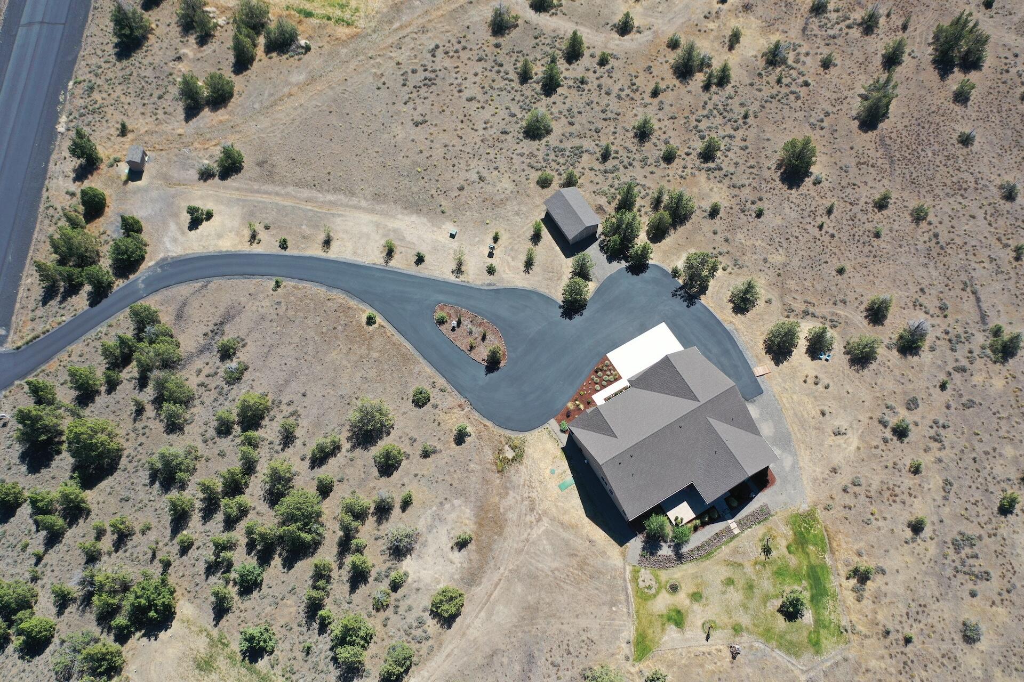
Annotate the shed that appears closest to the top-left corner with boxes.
[124,145,153,171]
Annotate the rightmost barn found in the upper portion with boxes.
[544,187,602,246]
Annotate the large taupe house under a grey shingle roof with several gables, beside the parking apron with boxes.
[566,342,782,524]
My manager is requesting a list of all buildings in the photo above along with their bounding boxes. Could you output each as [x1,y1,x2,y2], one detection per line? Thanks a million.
[544,187,602,246]
[566,342,782,524]
[124,145,153,171]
